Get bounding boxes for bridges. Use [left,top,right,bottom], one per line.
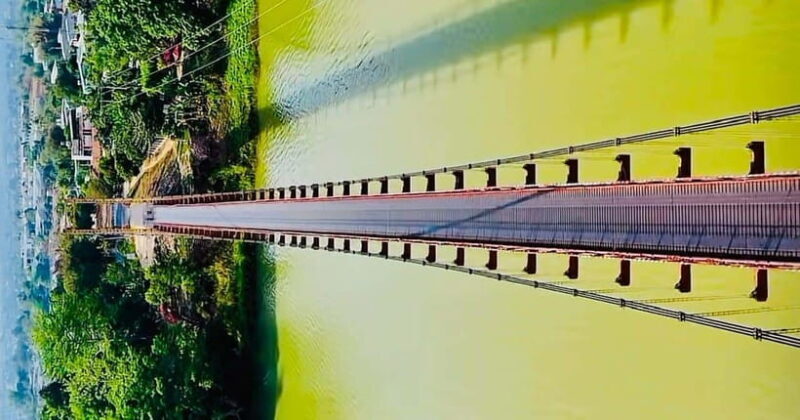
[66,104,800,346]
